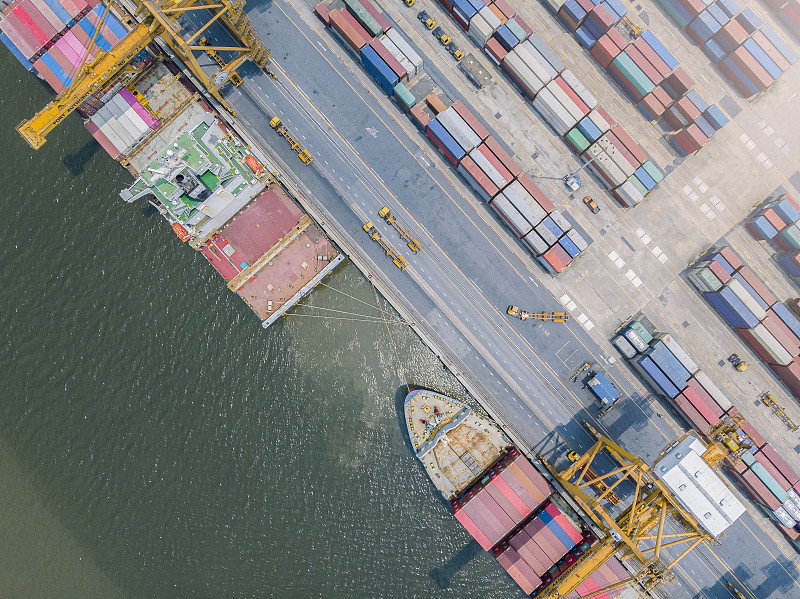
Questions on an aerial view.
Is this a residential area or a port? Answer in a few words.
port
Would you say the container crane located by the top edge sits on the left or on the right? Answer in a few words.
left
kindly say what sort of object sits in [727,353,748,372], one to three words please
vehicle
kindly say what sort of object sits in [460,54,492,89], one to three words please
shed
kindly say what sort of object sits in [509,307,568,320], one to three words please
vehicle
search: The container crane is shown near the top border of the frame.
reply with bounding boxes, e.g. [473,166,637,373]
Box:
[12,0,288,151]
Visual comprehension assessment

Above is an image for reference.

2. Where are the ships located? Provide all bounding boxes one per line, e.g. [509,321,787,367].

[403,387,589,552]
[43,0,342,327]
